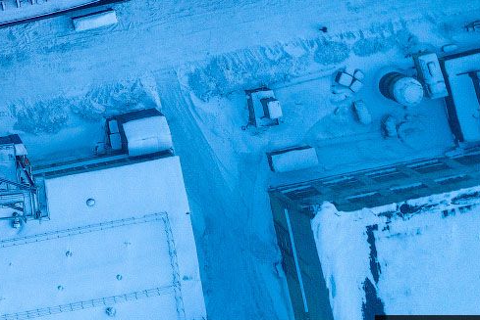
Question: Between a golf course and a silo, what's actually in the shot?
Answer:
silo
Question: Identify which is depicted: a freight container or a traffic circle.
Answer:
freight container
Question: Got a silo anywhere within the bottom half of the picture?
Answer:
No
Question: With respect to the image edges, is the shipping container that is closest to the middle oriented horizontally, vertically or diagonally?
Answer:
horizontally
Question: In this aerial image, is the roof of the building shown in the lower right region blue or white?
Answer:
blue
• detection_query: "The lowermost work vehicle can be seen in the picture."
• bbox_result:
[95,136,107,154]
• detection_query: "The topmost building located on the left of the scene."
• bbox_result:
[106,109,173,149]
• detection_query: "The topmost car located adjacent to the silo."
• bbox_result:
[354,100,374,125]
